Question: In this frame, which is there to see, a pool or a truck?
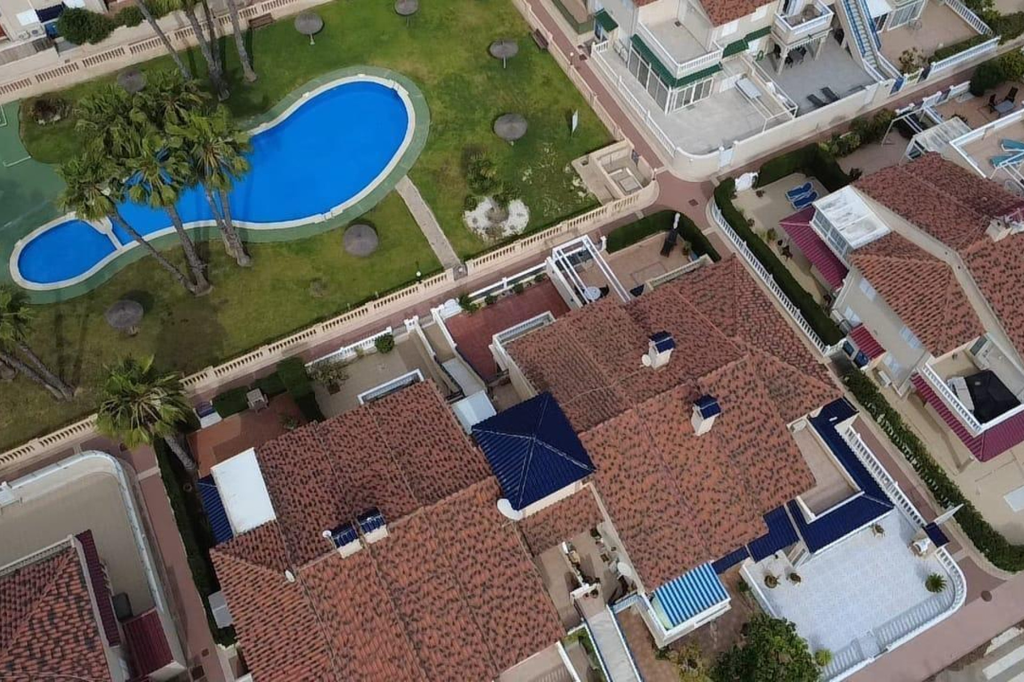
pool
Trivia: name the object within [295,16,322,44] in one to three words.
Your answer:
umbrella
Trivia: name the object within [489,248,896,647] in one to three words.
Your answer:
house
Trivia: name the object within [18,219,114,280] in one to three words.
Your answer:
swimming pool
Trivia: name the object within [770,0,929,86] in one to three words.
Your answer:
house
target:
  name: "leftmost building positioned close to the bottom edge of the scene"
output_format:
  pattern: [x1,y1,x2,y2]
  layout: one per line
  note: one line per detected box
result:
[0,523,187,682]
